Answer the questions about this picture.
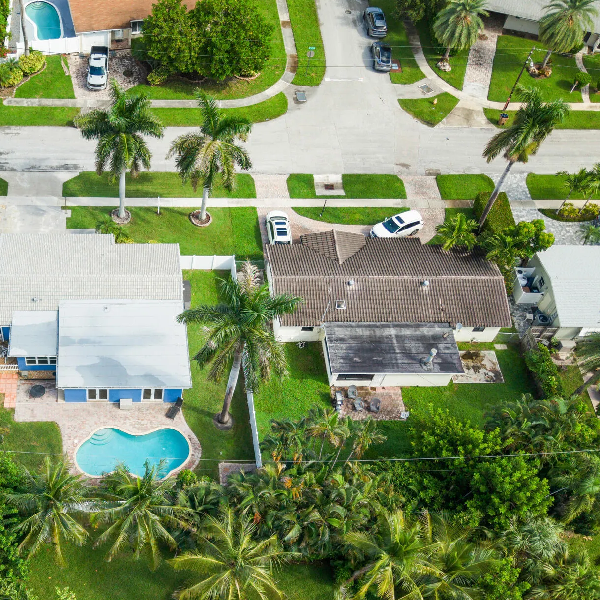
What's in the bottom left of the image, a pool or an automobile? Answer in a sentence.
The feature located in the bottom left of the image is a pool.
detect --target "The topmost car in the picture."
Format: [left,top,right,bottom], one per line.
[362,4,391,34]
